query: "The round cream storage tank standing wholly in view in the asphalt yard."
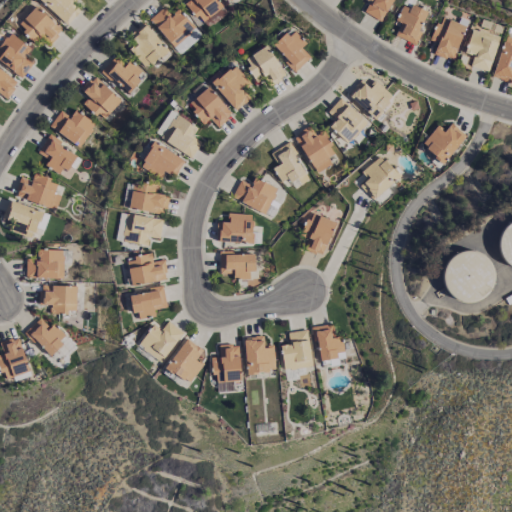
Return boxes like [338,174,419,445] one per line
[444,251,497,303]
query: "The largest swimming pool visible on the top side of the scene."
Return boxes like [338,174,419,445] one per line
[397,155,416,174]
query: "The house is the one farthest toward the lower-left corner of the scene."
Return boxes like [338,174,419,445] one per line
[0,337,33,382]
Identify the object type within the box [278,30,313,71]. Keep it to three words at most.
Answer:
house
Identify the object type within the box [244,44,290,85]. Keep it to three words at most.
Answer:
house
